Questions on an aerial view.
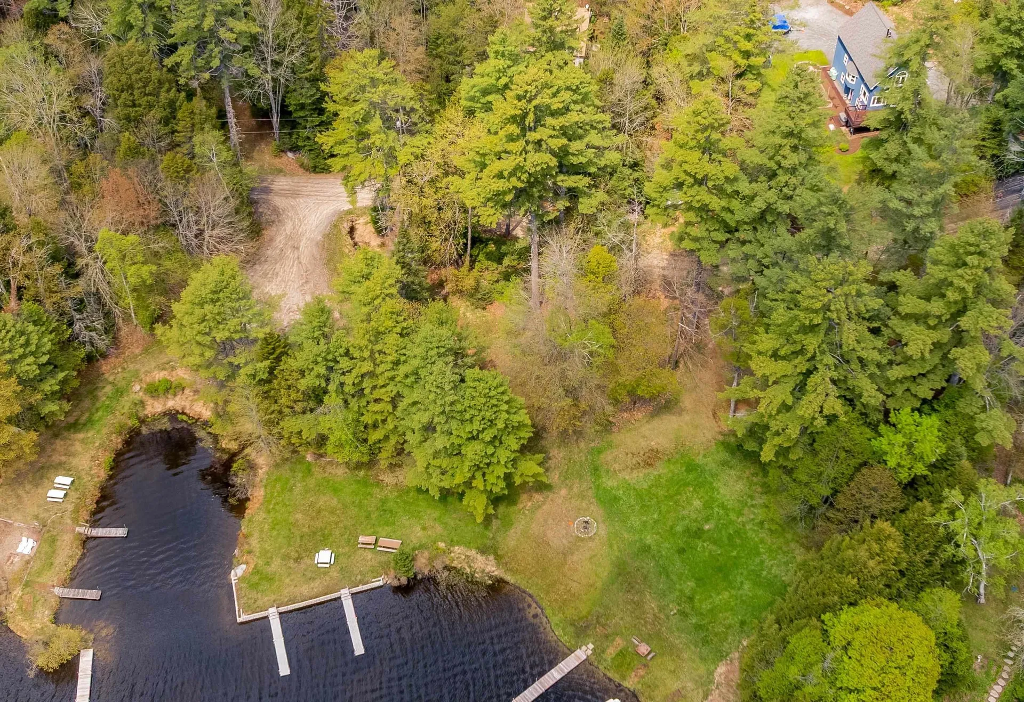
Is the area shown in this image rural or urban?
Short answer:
rural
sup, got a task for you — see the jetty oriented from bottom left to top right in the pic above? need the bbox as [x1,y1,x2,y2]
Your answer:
[510,648,589,702]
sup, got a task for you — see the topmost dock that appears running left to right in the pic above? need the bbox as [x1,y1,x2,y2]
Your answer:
[77,524,128,539]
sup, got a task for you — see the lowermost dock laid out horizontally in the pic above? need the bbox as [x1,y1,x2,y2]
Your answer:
[53,587,102,603]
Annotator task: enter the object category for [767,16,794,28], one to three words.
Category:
boat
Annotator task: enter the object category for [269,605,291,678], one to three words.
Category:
pier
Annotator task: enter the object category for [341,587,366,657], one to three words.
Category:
pier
